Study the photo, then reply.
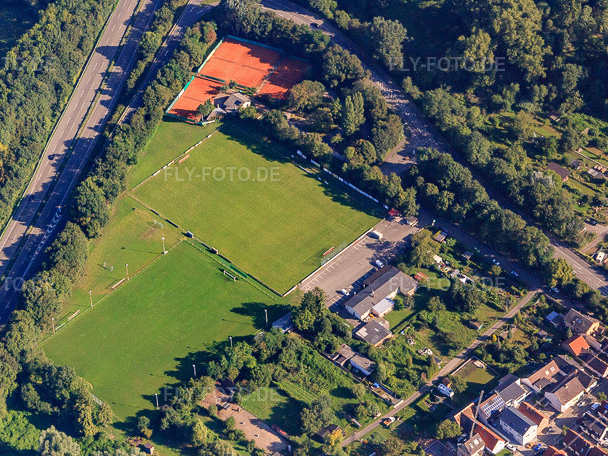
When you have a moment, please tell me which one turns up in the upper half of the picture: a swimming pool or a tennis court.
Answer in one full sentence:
The one visible in the upper half of the picture is a tennis court.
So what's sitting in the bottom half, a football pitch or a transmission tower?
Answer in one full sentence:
It is a football pitch that can be seen in the bottom half.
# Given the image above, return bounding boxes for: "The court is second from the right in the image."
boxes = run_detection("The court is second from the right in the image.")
[229,48,282,91]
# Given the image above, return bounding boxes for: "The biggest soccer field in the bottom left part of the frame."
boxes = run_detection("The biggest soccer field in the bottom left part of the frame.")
[43,241,279,429]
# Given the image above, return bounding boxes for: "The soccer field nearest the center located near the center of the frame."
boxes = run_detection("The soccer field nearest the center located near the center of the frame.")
[132,116,392,295]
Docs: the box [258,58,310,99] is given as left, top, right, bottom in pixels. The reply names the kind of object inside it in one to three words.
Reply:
tennis court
